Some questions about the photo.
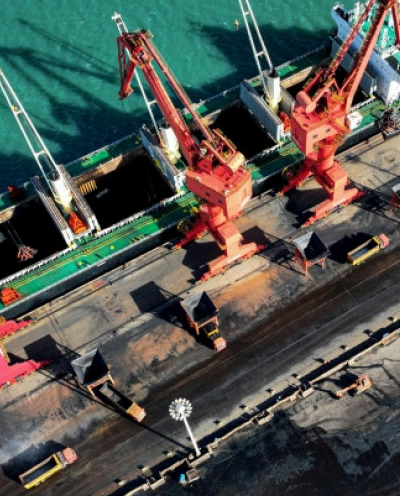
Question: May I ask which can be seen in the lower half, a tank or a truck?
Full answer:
Visible in the lower half is a truck.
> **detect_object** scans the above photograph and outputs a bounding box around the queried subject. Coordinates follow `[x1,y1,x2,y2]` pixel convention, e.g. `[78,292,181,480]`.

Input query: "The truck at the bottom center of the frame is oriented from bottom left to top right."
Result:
[180,468,201,490]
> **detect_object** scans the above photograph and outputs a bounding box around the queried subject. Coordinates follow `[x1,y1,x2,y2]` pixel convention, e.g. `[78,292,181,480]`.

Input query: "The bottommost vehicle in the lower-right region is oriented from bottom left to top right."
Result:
[338,371,375,401]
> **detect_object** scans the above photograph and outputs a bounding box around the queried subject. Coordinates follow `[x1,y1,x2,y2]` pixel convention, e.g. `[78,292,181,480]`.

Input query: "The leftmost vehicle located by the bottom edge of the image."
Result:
[18,445,81,490]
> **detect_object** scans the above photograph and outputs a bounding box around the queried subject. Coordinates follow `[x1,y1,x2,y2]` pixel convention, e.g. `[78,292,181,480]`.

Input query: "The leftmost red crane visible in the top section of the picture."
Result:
[117,22,270,283]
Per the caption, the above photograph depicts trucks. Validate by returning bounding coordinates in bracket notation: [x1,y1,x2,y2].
[198,317,228,356]
[345,233,390,268]
[180,468,201,490]
[97,378,152,426]
[18,445,81,490]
